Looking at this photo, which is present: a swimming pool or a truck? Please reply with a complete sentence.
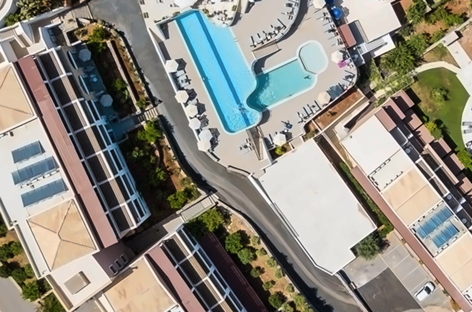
The one in the frame is a swimming pool.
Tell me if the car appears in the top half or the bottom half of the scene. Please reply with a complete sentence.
It is in the bottom half that the car appears.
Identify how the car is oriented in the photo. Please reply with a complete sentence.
What the image shows is the car lying at an angle.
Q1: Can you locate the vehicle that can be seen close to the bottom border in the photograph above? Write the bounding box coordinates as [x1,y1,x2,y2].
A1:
[415,281,435,304]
